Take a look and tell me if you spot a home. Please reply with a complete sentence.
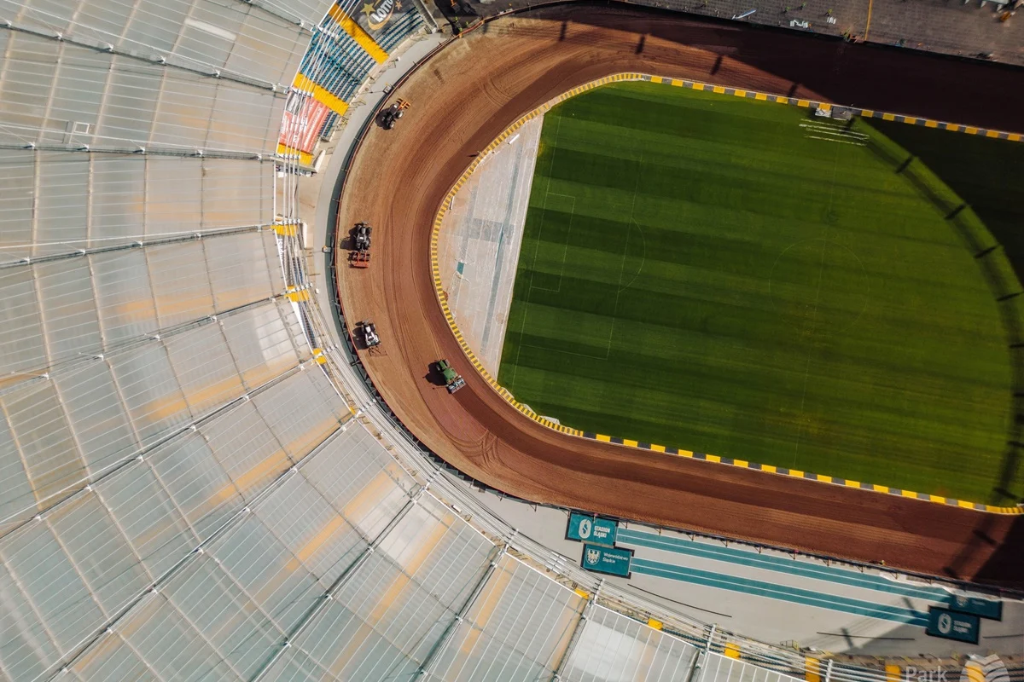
No, there appears to be no home in this shot.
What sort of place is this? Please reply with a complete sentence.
The picture captures a sports ground.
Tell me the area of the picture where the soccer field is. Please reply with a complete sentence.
The soccer field appears toward the right of the photo.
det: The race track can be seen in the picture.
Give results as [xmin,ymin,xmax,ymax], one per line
[335,1,1024,594]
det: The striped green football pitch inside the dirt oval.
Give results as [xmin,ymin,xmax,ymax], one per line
[495,80,1024,509]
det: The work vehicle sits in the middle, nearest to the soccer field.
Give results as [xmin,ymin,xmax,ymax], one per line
[433,354,465,394]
